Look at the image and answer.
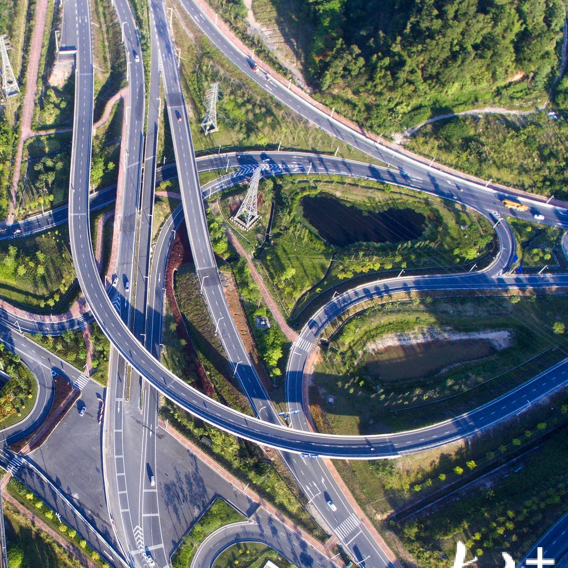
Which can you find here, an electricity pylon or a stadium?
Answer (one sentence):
Looking from above, you can make out an electricity pylon.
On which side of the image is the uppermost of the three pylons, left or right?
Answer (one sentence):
The uppermost of the three pylons appears in the left half of the scene.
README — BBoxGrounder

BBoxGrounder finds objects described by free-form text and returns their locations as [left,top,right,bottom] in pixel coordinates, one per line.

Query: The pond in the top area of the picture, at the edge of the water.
[300,192,425,246]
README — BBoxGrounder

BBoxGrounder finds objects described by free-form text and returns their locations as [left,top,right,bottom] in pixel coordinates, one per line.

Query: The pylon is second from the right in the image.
[200,79,222,134]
